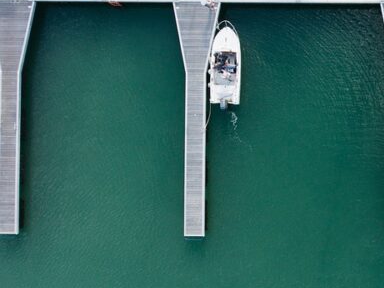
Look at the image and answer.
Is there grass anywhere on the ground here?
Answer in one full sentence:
No, no grass is visible.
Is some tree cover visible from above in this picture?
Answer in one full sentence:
No, tree cover can't be seen anywhere here.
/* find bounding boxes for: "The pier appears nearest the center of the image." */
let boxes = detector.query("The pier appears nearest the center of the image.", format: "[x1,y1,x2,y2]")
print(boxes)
[173,3,219,238]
